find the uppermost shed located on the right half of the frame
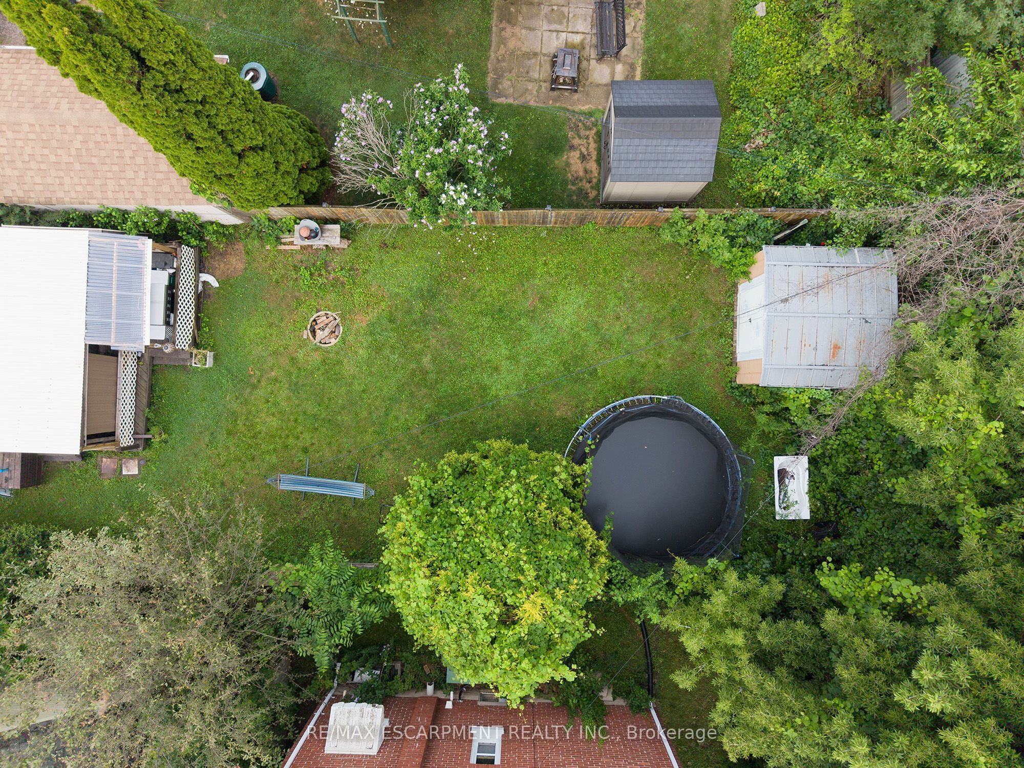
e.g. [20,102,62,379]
[599,79,724,204]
